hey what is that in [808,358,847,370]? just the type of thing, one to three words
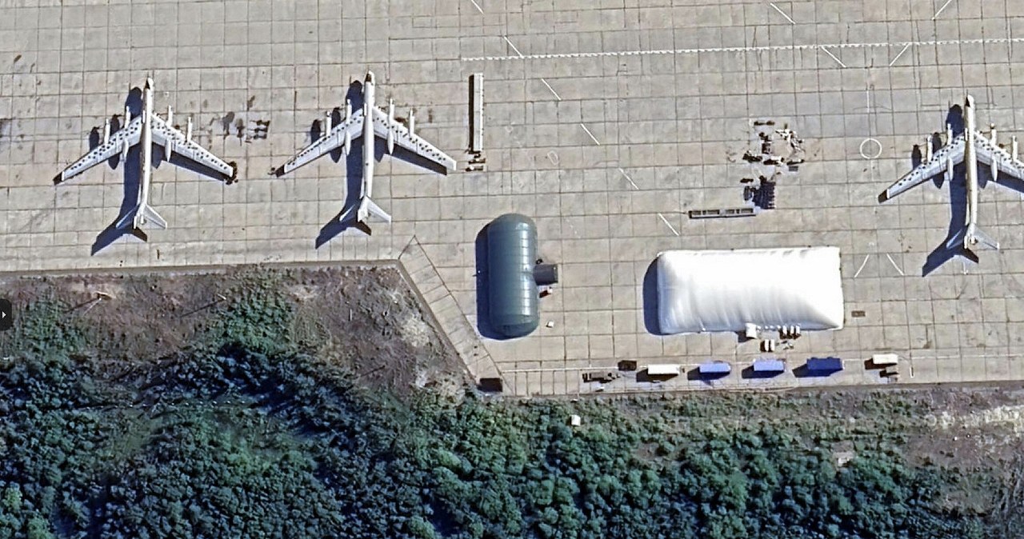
vehicle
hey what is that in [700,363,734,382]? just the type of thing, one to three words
vehicle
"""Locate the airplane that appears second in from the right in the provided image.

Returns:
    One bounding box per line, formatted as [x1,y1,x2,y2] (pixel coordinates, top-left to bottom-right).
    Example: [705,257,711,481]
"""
[286,71,457,222]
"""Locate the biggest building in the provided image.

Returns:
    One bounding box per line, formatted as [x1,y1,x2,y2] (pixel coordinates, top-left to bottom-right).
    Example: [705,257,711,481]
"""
[658,246,846,339]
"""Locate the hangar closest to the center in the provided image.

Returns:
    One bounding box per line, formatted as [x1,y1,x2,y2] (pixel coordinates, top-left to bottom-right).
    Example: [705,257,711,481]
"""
[479,214,557,337]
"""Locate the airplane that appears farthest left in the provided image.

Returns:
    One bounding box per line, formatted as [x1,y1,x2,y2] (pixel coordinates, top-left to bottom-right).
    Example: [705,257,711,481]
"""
[65,76,235,229]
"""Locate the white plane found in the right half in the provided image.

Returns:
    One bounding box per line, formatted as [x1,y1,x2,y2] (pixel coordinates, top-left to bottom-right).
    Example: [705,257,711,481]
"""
[889,94,1024,247]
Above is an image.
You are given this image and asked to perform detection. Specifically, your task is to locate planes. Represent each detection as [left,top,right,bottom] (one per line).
[889,94,1024,247]
[286,71,457,222]
[65,76,235,229]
